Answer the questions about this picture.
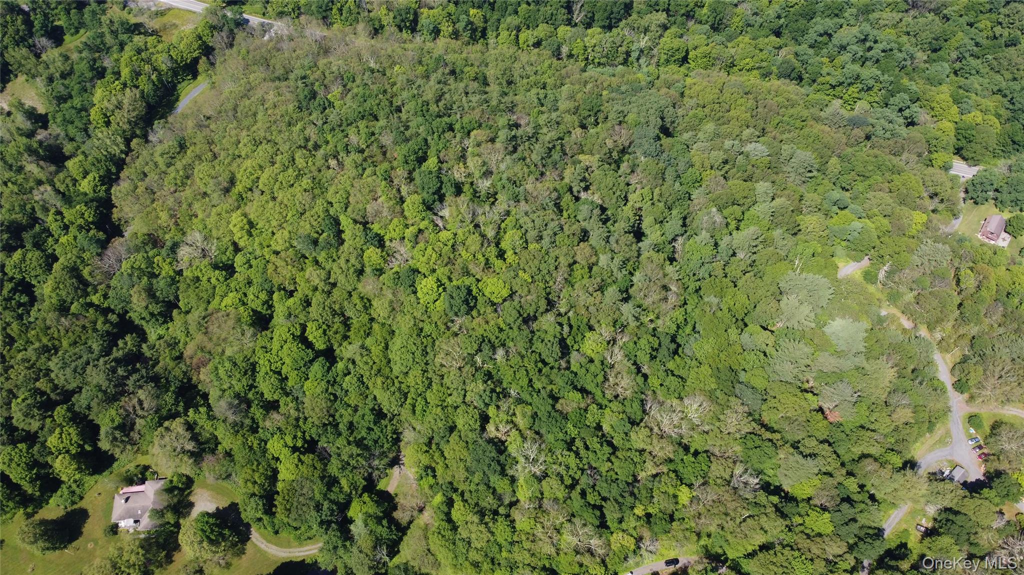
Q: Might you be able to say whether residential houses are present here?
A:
Yes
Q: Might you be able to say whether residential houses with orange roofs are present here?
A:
No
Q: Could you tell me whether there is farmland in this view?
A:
No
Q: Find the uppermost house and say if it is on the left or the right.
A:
right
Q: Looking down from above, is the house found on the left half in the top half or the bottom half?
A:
bottom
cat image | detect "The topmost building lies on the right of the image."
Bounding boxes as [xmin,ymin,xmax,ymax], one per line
[973,216,1011,249]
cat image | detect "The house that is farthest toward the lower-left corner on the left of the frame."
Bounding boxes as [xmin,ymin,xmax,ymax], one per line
[106,472,171,533]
